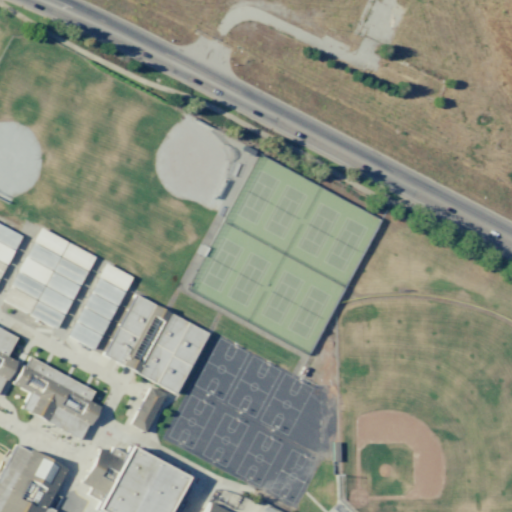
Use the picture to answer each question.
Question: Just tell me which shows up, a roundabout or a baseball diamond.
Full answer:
The image shows a baseball diamond.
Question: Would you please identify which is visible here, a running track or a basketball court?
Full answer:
Looking from above, you can make out a basketball court.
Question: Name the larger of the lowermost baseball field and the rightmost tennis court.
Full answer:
The larger object is the baseball field, with the tennis court being the smaller of the pair.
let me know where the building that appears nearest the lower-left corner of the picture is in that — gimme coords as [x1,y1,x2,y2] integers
[0,445,68,512]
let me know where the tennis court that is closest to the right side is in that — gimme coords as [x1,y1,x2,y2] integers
[326,218,368,270]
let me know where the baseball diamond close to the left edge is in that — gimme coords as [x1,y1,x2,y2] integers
[0,122,42,196]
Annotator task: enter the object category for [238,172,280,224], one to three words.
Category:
tennis court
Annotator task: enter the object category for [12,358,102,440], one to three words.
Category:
building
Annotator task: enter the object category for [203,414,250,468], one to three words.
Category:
basketball court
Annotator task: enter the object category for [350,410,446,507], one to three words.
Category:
baseball field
